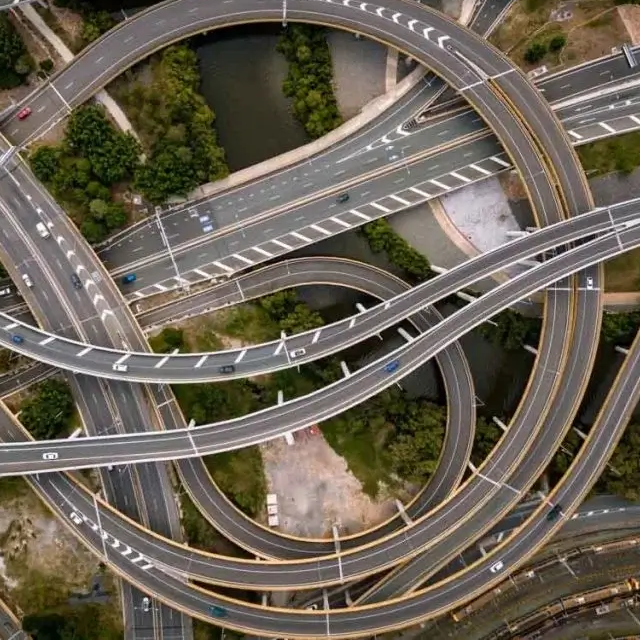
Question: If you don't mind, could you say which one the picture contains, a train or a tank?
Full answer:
It is a train that can be seen here.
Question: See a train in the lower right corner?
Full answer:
Yes, a train is visible in the lower right corner.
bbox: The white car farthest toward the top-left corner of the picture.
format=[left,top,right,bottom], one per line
[35,223,47,237]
